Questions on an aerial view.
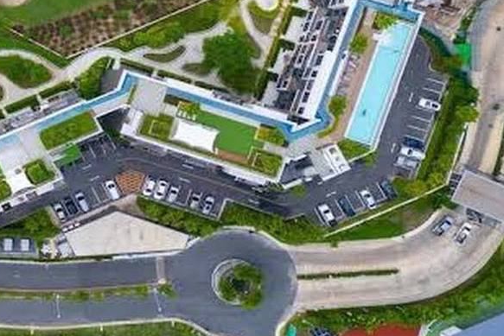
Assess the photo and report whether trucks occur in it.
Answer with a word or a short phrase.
No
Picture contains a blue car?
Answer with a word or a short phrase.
Yes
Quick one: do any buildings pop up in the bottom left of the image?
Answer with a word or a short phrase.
Yes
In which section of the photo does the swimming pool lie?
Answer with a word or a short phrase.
top right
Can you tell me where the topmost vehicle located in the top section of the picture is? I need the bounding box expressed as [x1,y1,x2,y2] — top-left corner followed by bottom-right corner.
[417,97,442,111]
